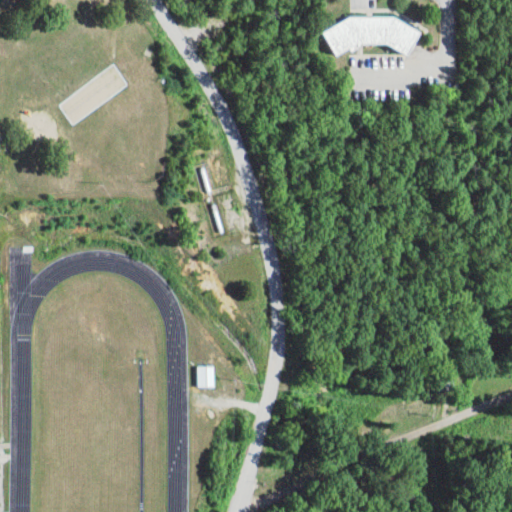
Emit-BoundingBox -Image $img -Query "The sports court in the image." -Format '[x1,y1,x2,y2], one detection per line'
[60,64,127,126]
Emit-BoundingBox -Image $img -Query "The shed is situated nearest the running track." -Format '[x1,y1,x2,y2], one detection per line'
[194,366,214,389]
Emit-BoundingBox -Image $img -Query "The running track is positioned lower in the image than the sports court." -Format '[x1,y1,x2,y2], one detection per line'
[10,248,189,512]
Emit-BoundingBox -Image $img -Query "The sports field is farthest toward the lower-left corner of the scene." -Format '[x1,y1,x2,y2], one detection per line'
[32,272,168,512]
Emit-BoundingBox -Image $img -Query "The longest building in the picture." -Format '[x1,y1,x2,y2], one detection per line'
[322,15,423,58]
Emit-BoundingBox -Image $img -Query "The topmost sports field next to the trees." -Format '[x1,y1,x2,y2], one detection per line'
[0,24,167,194]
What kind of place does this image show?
sports ground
